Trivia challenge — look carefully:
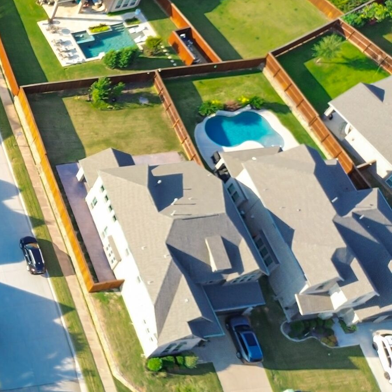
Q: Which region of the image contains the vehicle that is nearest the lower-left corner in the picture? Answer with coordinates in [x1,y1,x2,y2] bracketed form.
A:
[19,237,48,278]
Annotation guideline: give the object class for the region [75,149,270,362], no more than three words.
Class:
house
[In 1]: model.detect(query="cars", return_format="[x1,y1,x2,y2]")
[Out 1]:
[364,332,392,379]
[19,237,48,278]
[227,317,266,363]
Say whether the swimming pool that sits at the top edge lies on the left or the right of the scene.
left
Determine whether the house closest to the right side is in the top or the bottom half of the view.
top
